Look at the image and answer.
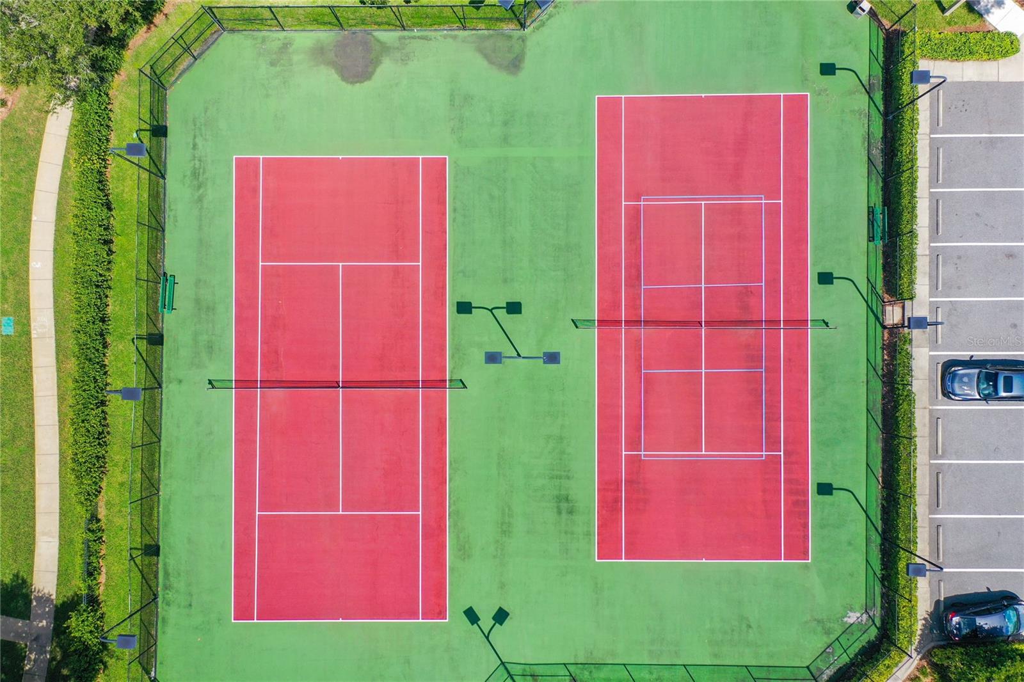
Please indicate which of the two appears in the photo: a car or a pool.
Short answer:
car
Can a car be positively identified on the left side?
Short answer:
No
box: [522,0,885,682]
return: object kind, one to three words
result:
tennis court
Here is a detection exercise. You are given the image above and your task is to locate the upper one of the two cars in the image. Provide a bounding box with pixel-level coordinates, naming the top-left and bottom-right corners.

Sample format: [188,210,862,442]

[943,361,1024,406]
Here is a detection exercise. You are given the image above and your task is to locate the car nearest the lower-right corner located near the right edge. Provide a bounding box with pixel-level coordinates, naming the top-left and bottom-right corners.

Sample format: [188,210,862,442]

[941,590,1024,638]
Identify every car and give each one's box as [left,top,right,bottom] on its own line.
[941,590,1024,638]
[943,361,1024,406]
